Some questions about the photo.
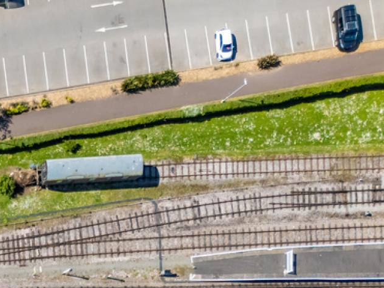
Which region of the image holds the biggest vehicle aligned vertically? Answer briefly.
top right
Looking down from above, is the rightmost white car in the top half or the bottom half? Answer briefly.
top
